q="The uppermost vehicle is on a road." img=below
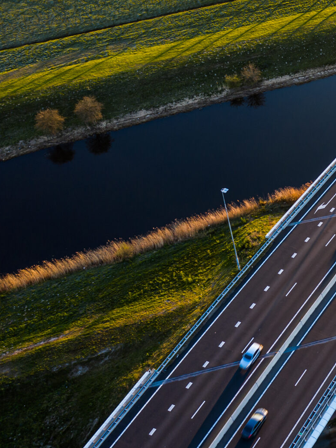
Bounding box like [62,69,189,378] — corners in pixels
[237,342,263,370]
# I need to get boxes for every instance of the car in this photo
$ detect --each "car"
[240,408,270,442]
[237,342,263,370]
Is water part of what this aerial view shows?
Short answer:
Yes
